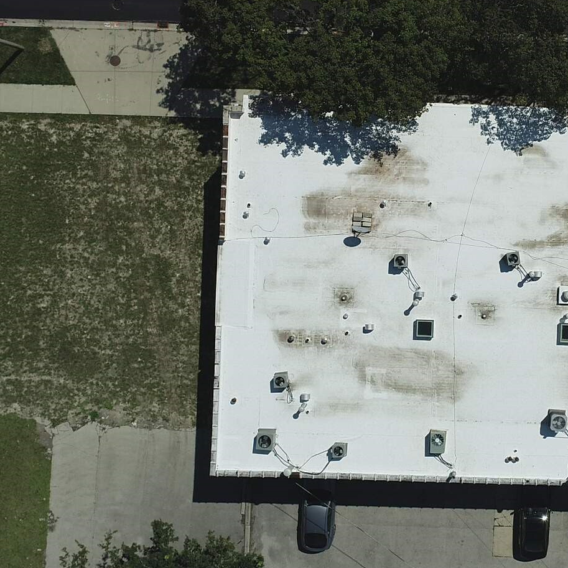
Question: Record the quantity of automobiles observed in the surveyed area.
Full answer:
In total, 2 automobiles can be seen.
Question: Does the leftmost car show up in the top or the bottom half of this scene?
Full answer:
The bottom half of the photo is where the leftmost car is.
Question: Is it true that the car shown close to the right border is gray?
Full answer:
No, from above the car shown close to the right border looks black.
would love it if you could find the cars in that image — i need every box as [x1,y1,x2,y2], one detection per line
[513,485,553,560]
[300,478,338,554]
